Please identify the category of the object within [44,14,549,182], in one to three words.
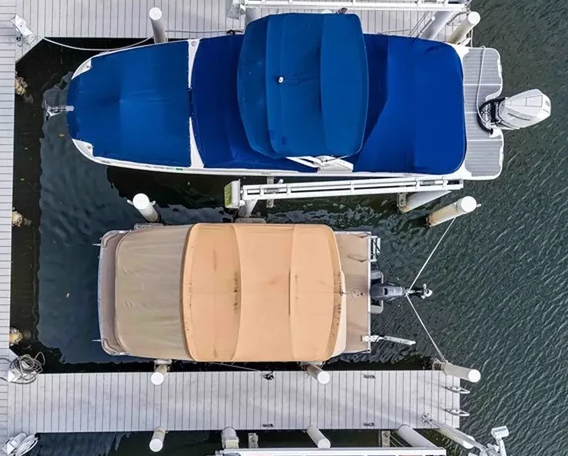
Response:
boat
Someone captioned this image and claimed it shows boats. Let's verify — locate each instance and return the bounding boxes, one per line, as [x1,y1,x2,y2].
[92,216,436,369]
[44,14,549,182]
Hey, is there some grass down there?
No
